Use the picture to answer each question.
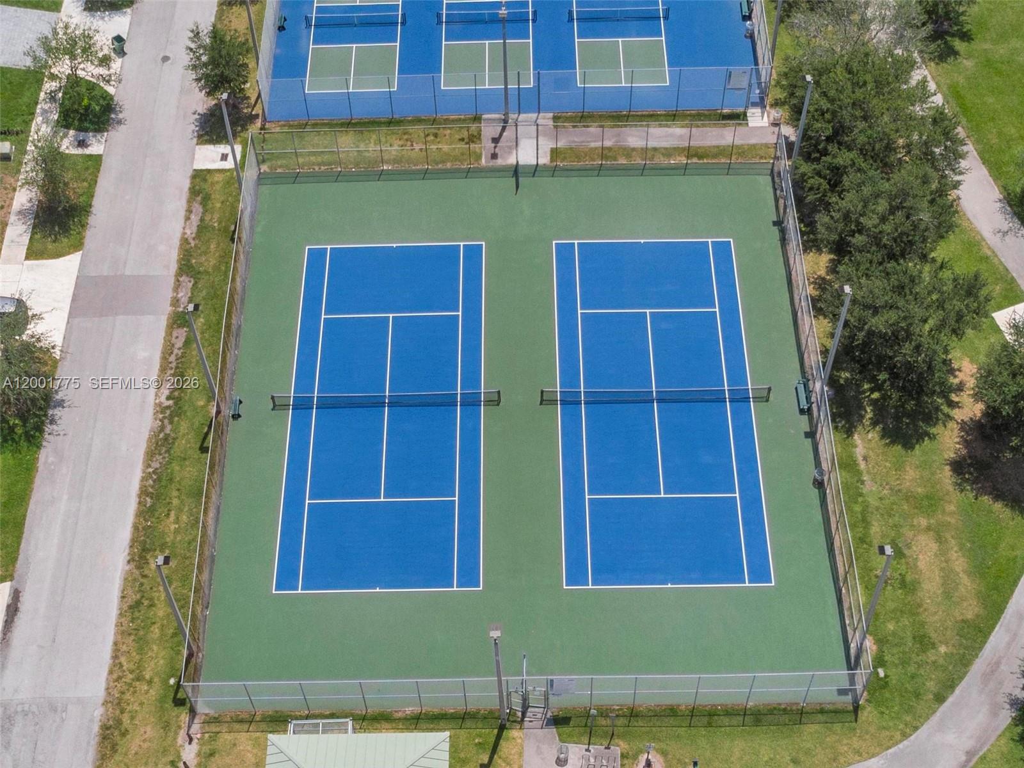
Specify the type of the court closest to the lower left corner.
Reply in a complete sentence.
What you see as the court closest to the lower left corner is a tennis court.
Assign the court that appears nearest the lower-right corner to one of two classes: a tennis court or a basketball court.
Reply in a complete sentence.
The court that appears nearest the lower-right corner appears to be a tennis court.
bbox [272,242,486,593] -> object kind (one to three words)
tennis court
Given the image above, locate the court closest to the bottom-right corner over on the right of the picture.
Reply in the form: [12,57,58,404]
[553,238,775,588]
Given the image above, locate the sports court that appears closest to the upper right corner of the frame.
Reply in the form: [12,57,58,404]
[574,0,668,86]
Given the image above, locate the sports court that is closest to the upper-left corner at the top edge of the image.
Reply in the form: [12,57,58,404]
[306,0,401,91]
